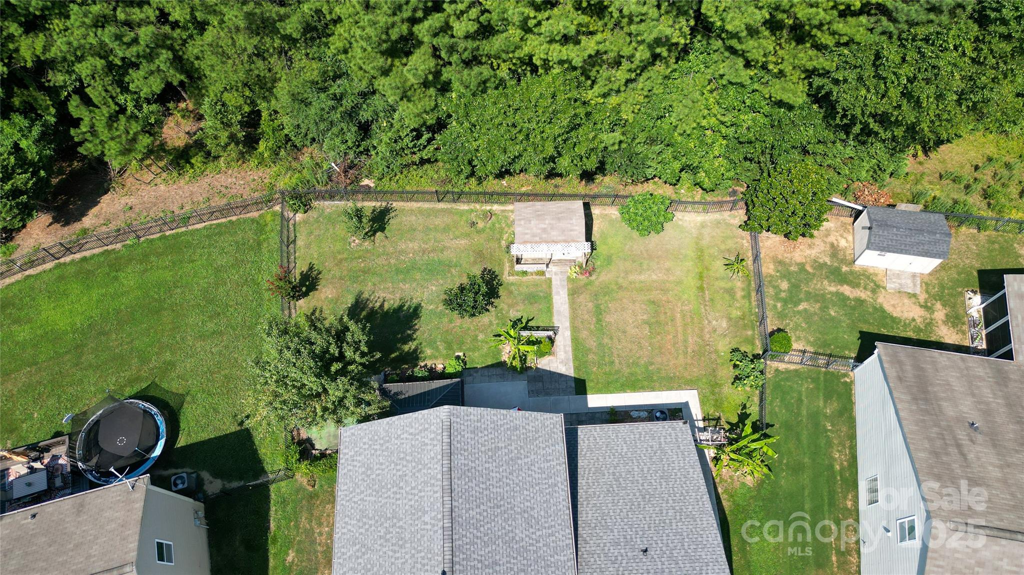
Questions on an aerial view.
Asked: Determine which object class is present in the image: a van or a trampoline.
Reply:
trampoline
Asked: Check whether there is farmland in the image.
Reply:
No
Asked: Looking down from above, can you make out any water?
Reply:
No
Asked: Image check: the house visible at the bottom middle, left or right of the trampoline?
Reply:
to its right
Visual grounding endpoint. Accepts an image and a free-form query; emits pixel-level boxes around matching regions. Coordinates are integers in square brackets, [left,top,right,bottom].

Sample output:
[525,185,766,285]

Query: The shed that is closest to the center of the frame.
[511,201,592,276]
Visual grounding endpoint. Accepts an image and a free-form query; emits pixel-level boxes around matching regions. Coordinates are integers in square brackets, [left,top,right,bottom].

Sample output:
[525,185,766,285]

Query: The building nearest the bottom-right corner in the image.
[852,273,1024,575]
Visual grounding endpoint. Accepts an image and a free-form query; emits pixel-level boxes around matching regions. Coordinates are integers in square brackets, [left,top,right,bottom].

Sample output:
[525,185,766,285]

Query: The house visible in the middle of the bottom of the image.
[328,404,727,575]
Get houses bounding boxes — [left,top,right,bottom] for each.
[328,404,727,575]
[852,273,1024,575]
[0,474,208,575]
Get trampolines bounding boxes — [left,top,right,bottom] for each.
[59,389,174,486]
